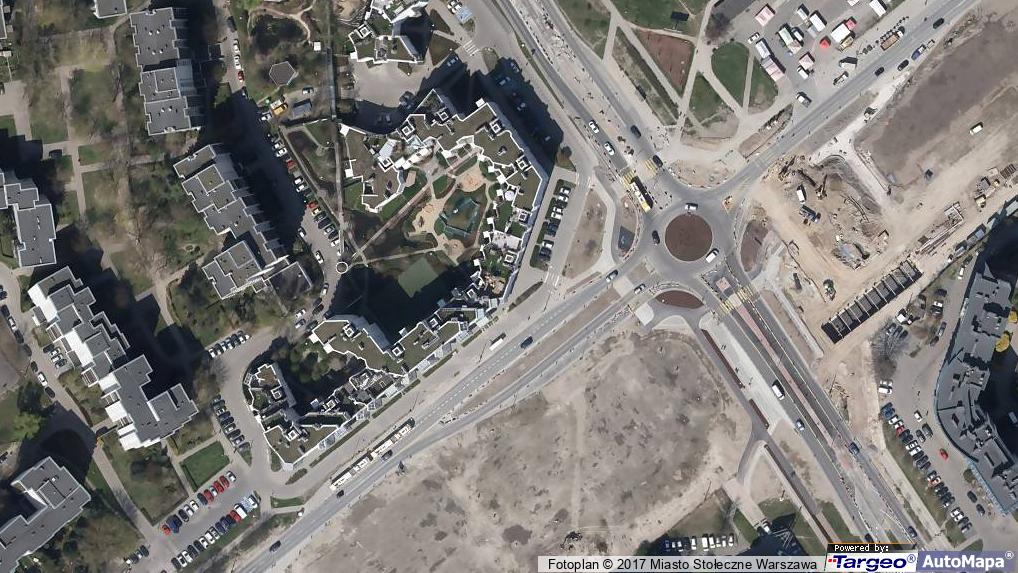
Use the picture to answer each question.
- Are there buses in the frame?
Yes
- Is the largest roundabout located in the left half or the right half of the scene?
right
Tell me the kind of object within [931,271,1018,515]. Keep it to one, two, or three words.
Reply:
building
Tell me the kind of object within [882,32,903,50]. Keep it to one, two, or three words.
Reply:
vehicle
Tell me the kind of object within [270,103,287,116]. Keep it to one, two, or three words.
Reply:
vehicle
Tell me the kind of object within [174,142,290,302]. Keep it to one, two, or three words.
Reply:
building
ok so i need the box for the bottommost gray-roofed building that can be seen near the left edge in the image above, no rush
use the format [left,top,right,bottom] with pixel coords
[0,452,105,573]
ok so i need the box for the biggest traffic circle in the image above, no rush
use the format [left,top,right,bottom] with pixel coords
[642,193,737,284]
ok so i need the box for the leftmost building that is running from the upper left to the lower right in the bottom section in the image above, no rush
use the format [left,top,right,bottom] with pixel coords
[28,265,211,451]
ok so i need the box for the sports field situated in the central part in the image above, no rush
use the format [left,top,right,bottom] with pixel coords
[398,257,438,312]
